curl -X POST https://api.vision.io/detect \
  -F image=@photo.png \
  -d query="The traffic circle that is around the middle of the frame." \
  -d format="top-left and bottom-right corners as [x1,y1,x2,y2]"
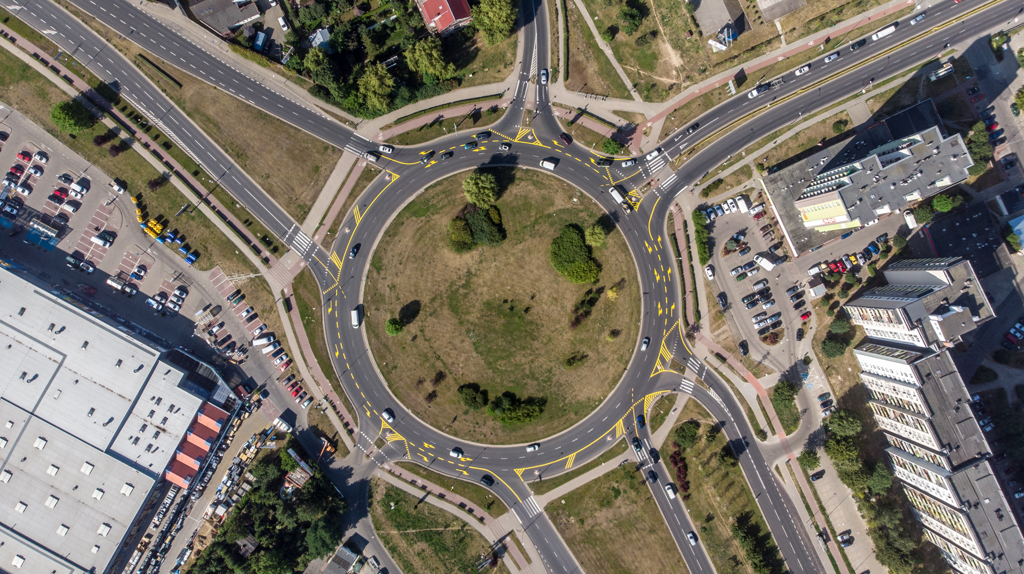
[314,126,692,503]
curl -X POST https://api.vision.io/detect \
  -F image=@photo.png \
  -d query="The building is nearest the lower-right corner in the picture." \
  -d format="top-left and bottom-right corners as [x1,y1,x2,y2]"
[886,451,1024,574]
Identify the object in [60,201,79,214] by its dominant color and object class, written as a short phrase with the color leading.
white vehicle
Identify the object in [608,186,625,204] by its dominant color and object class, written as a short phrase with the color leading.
white vehicle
